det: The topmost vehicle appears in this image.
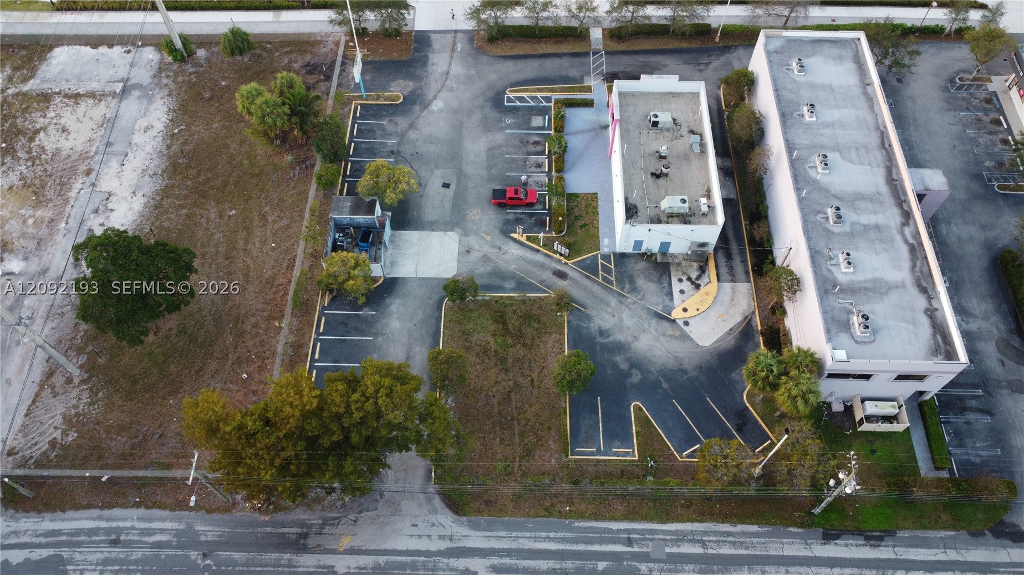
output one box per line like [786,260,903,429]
[492,186,538,208]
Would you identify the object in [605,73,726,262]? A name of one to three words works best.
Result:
building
